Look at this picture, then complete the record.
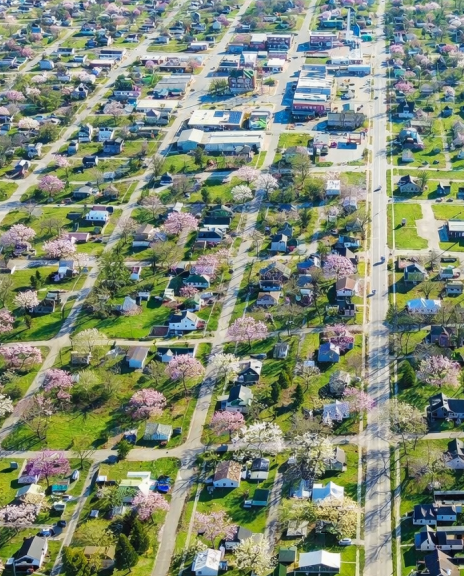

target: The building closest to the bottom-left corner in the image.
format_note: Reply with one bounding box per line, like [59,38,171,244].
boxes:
[9,535,55,573]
